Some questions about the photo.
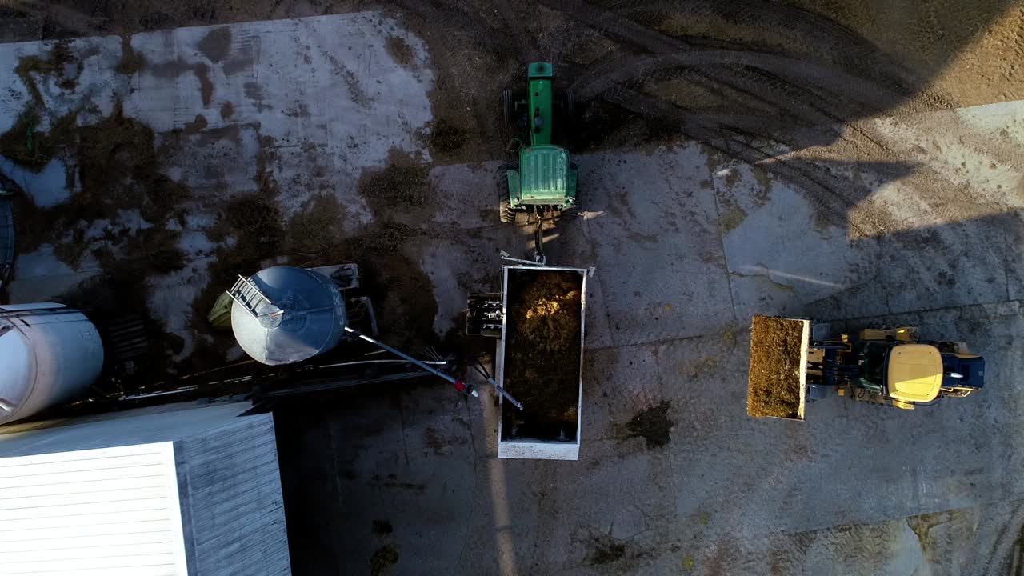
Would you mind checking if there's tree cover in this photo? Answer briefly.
No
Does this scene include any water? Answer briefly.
No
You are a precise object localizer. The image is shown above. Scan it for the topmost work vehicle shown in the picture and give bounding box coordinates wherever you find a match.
[499,63,583,253]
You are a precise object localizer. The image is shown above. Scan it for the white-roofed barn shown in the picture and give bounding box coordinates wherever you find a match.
[0,402,291,576]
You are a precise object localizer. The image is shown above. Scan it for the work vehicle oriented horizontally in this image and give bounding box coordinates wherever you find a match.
[746,316,981,422]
